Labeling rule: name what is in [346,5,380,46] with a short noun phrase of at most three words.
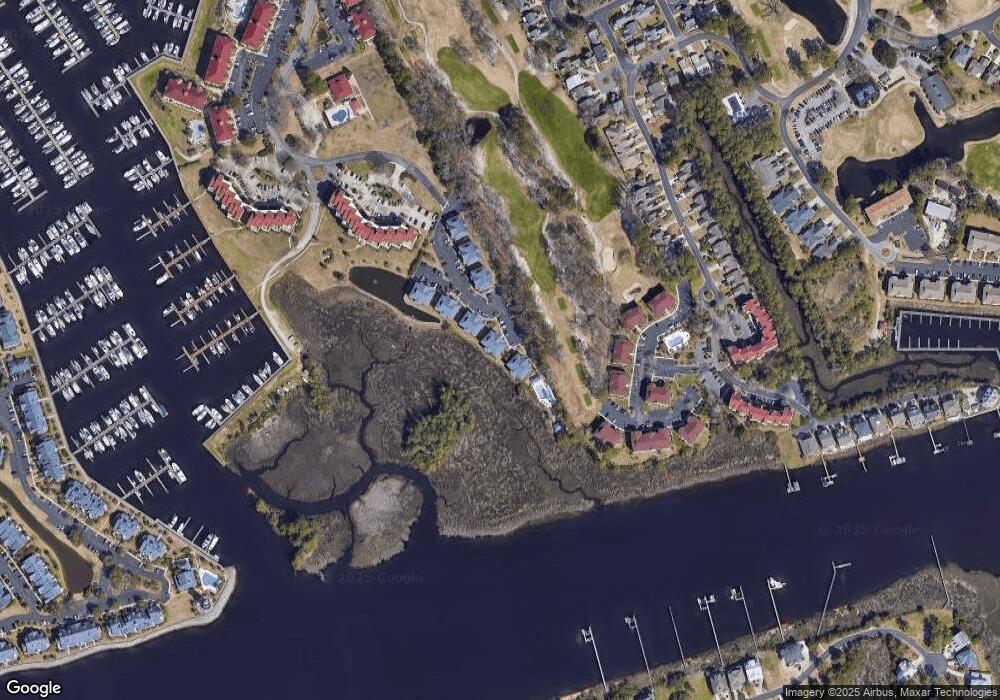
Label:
building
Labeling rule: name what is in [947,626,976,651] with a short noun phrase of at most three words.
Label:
house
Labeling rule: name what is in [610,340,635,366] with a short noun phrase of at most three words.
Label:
house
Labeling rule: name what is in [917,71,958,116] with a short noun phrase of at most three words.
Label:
building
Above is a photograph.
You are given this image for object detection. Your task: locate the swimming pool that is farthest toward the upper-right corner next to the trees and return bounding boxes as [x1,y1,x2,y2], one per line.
[724,93,749,123]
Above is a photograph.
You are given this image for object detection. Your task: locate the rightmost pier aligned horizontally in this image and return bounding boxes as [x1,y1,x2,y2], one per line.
[895,310,1000,357]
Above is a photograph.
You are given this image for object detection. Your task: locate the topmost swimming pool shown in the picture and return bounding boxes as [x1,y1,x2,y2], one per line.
[224,0,249,22]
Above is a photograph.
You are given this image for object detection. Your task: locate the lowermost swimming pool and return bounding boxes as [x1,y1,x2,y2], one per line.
[196,571,220,592]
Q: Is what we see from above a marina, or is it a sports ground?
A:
marina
